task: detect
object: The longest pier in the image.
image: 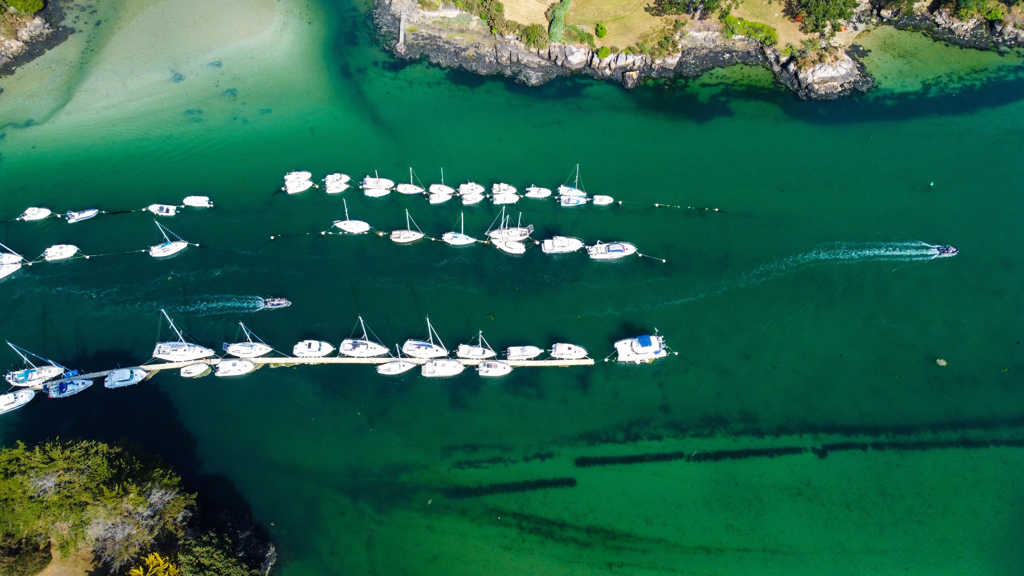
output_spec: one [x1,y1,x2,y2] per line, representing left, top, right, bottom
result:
[7,357,593,393]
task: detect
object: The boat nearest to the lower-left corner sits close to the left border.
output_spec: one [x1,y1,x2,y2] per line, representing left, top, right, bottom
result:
[0,389,35,412]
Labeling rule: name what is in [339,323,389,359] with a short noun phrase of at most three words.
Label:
boat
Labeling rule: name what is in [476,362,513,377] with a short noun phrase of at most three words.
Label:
boat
